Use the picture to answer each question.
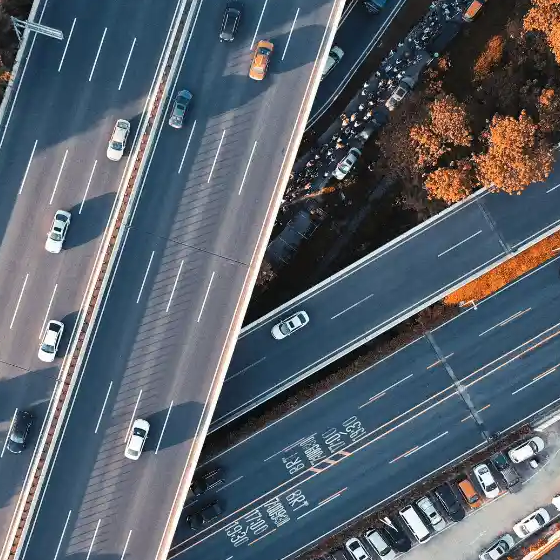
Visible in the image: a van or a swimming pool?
van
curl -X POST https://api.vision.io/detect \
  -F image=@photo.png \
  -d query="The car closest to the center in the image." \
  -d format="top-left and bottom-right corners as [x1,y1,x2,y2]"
[271,310,308,340]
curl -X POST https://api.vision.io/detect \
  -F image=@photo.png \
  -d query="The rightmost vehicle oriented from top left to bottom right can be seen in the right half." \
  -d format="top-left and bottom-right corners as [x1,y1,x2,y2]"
[489,447,525,492]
